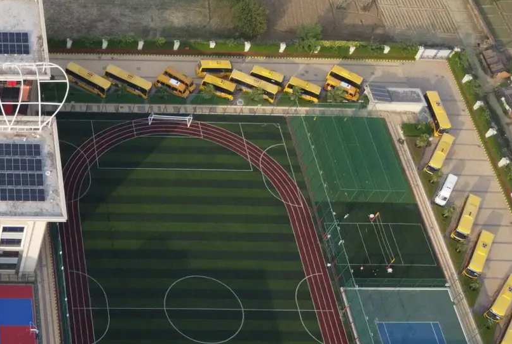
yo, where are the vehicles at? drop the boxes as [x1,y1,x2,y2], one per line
[57,60,118,100]
[492,309,512,344]
[154,74,187,100]
[319,63,370,98]
[164,64,194,94]
[457,227,495,284]
[282,75,326,106]
[420,131,456,180]
[477,270,512,329]
[244,64,286,93]
[194,73,242,104]
[223,67,285,106]
[431,175,457,207]
[423,87,454,138]
[189,60,236,77]
[447,192,482,246]
[99,62,155,101]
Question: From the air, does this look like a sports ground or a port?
sports ground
